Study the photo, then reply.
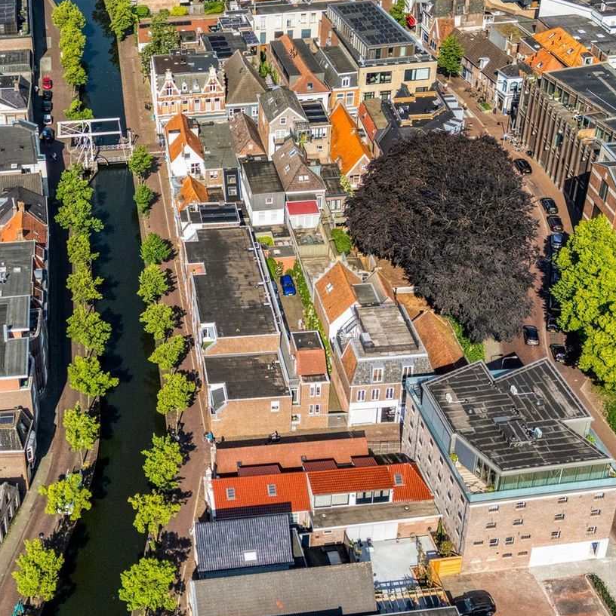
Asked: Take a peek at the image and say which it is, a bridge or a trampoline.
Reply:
bridge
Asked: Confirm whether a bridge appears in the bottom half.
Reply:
No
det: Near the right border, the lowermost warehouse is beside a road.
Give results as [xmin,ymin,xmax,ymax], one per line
[402,357,616,575]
